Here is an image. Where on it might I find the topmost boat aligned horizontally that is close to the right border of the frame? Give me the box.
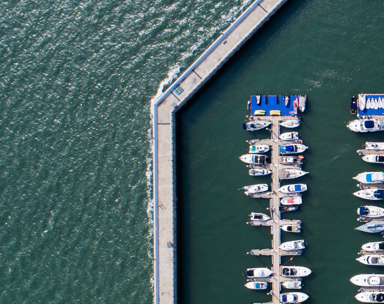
[347,119,384,131]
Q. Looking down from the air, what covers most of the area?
water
